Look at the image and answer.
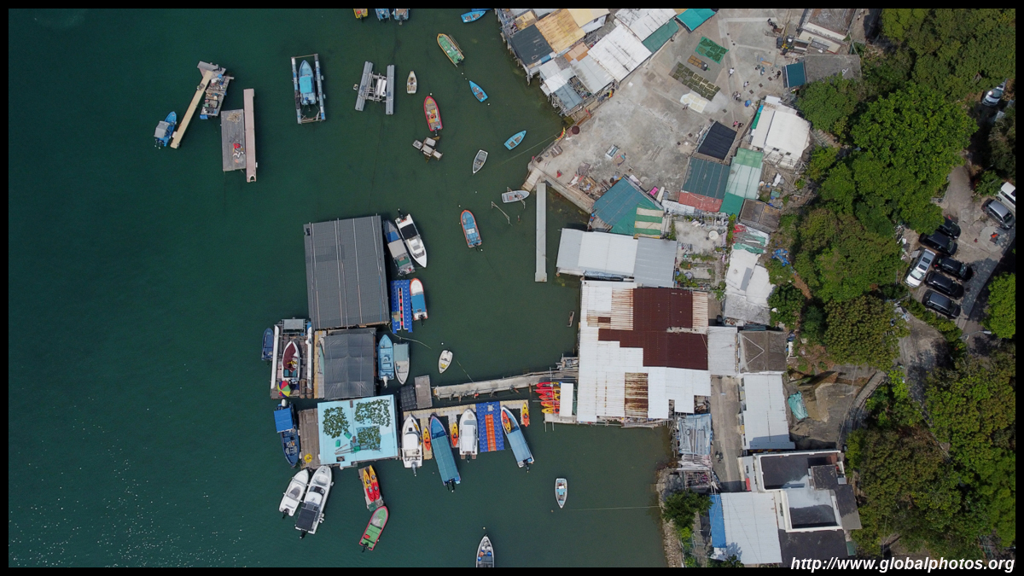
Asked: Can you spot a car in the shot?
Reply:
Yes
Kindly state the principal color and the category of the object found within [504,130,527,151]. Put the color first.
blue boat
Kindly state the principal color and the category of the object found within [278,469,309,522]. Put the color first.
white boat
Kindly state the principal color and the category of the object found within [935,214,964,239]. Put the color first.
black car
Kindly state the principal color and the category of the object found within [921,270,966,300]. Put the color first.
black car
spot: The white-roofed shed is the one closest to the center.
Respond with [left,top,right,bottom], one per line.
[555,228,638,277]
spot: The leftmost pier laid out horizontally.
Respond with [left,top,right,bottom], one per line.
[403,402,477,421]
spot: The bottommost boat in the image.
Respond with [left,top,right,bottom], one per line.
[475,536,495,576]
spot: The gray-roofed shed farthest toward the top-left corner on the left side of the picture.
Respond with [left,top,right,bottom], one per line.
[305,215,393,331]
